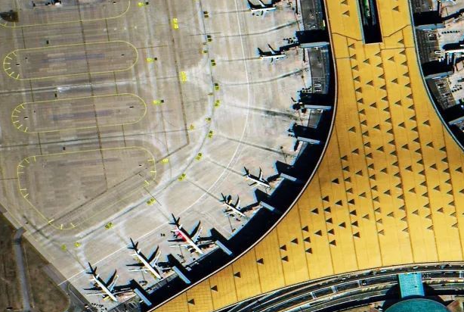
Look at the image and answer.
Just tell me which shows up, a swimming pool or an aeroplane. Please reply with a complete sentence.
I can see an aeroplane in this picture.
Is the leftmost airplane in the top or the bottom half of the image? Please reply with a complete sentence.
The leftmost airplane is in the bottom half of the image.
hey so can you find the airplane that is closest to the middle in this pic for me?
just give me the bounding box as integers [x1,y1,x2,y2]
[246,169,271,190]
